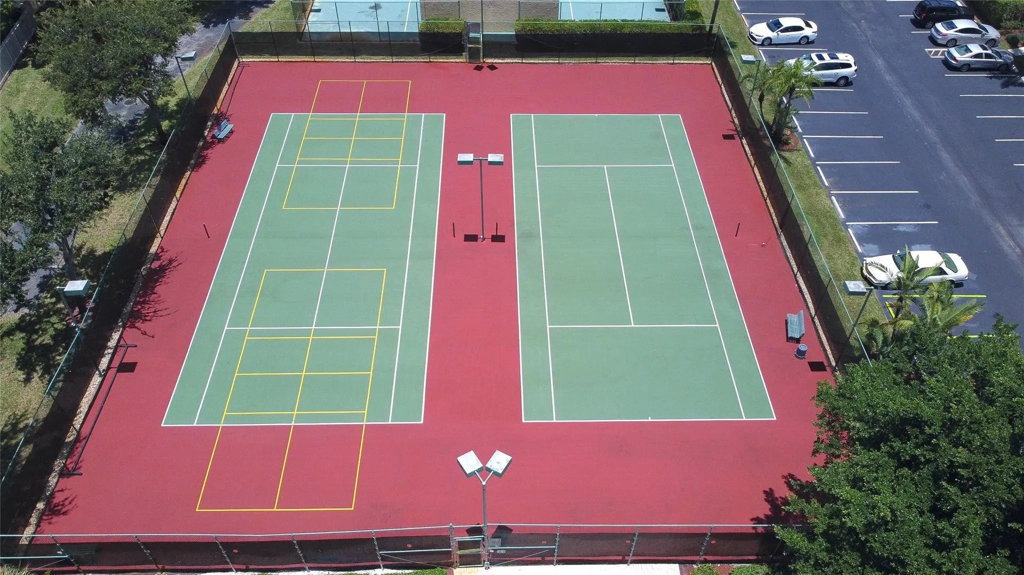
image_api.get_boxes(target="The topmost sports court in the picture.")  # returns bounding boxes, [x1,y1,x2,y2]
[303,0,670,42]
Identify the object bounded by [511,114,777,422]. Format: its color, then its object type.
green tennis court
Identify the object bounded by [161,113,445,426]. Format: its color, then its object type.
green tennis court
